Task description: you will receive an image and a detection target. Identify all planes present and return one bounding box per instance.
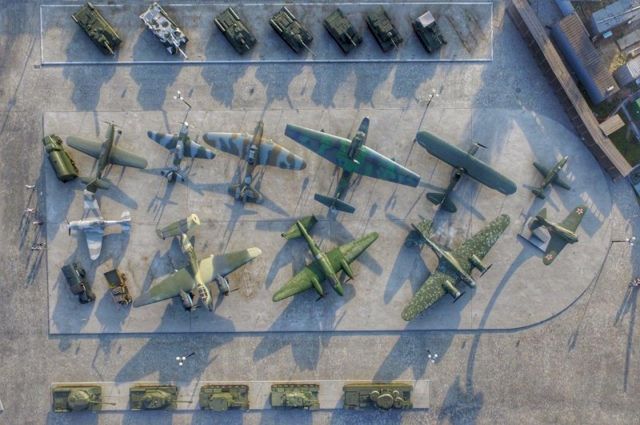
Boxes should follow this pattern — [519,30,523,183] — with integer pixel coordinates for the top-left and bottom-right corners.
[532,157,572,202]
[202,118,308,199]
[131,214,262,314]
[530,204,585,266]
[64,190,133,261]
[416,133,517,214]
[272,211,380,300]
[63,121,145,191]
[145,121,214,182]
[284,113,422,212]
[403,216,509,319]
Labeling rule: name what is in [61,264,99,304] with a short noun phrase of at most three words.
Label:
truck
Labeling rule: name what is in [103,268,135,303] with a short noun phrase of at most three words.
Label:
truck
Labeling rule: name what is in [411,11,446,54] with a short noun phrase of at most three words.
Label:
work vehicle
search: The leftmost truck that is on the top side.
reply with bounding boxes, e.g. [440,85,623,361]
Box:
[44,136,78,182]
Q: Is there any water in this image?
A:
No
